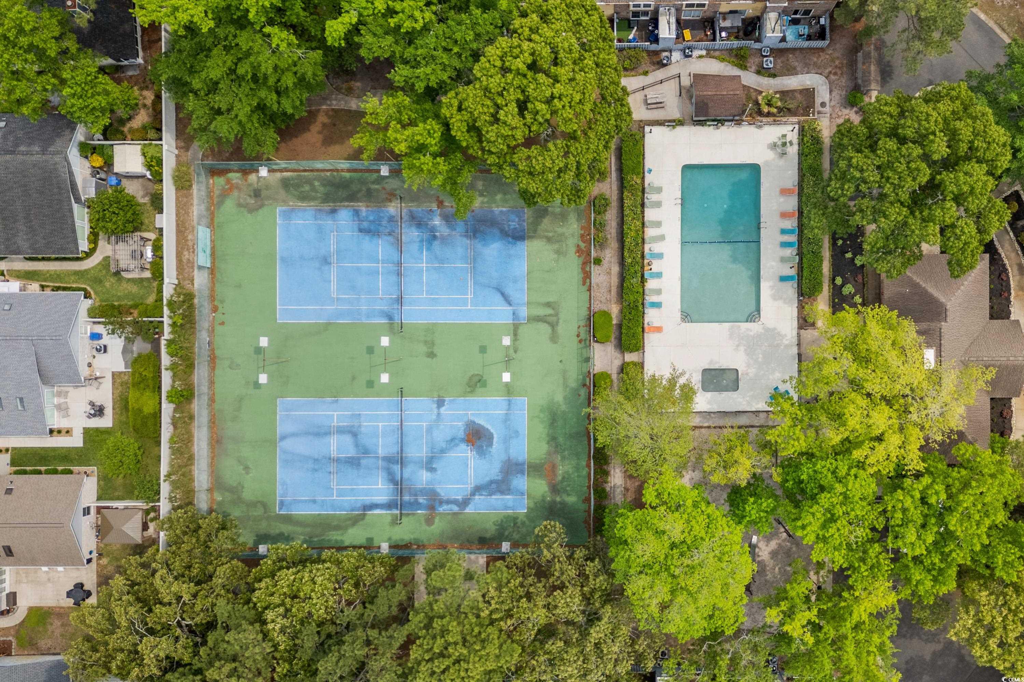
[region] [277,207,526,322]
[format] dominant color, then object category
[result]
blue tennis court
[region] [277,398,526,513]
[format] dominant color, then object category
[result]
blue tennis court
